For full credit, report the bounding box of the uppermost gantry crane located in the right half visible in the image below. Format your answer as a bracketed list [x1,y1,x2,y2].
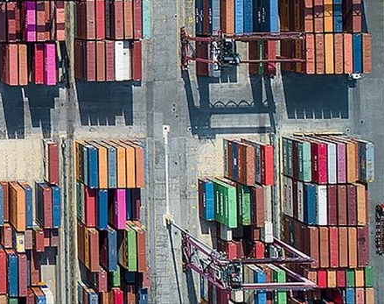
[182,26,316,68]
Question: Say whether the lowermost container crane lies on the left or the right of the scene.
right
